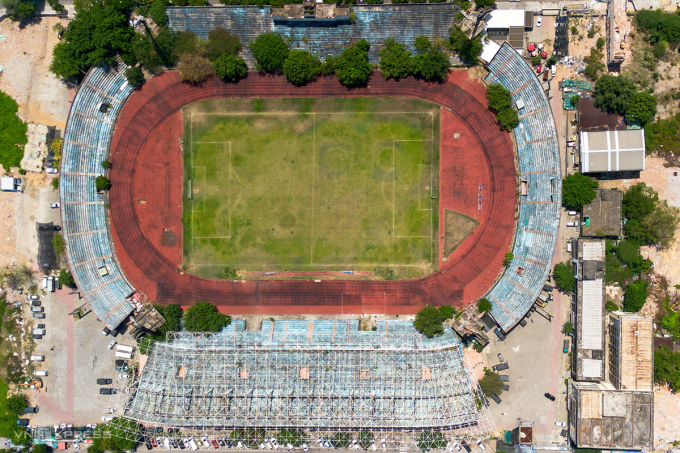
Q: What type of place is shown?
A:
sports ground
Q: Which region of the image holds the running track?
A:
center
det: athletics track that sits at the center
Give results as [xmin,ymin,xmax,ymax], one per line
[109,70,518,315]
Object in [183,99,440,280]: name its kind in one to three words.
soccer field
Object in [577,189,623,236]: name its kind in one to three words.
building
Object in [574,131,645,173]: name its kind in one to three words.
building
